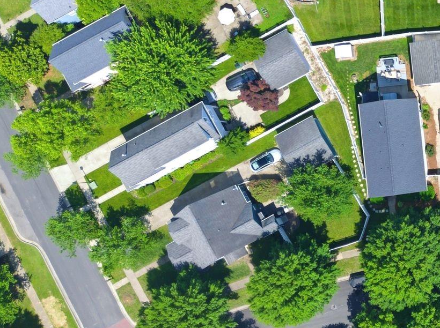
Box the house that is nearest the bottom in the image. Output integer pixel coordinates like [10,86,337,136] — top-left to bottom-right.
[165,184,283,268]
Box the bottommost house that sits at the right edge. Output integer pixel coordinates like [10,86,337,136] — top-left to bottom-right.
[357,90,428,197]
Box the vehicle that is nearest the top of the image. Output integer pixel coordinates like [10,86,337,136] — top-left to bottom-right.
[224,69,260,90]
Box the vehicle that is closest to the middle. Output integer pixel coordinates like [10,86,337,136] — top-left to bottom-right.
[250,147,282,173]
